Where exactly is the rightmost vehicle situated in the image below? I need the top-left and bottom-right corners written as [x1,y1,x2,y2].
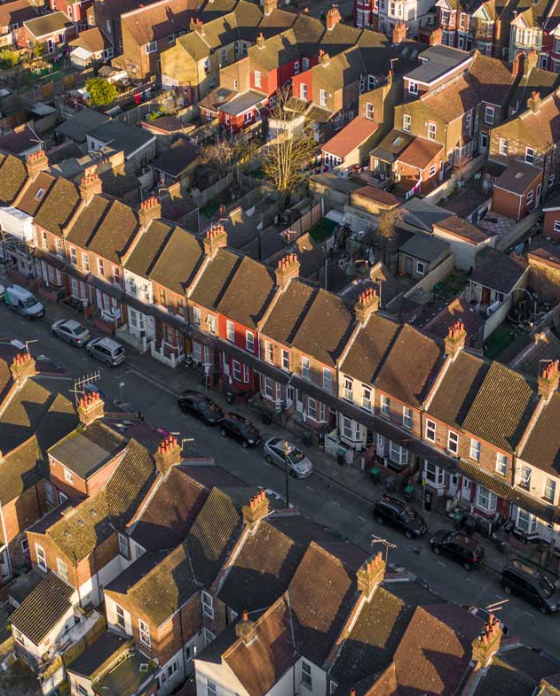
[492,557,560,613]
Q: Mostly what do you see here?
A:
buildings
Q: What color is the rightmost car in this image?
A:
black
